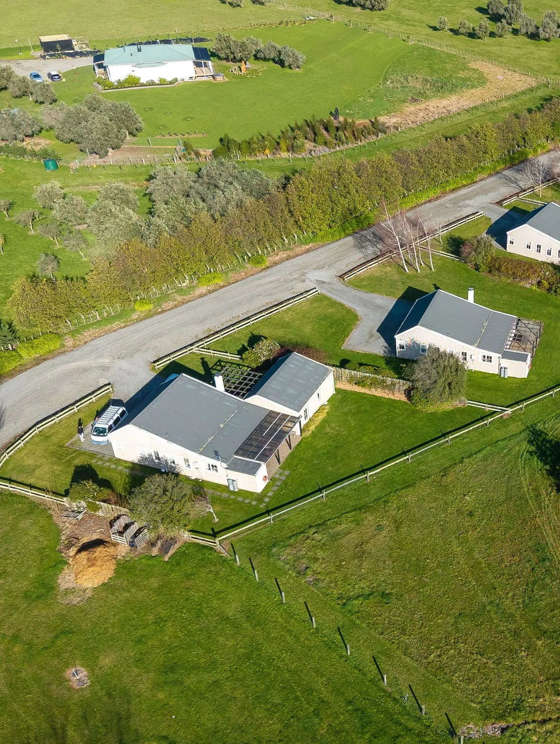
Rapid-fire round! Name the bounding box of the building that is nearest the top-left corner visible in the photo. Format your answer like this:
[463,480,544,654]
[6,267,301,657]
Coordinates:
[94,43,215,82]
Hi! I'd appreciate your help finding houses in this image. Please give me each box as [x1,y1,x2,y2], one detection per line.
[507,201,560,263]
[107,352,334,492]
[94,43,215,82]
[394,283,546,378]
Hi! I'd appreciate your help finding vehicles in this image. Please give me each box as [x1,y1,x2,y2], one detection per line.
[31,69,43,81]
[89,403,128,445]
[47,69,60,81]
